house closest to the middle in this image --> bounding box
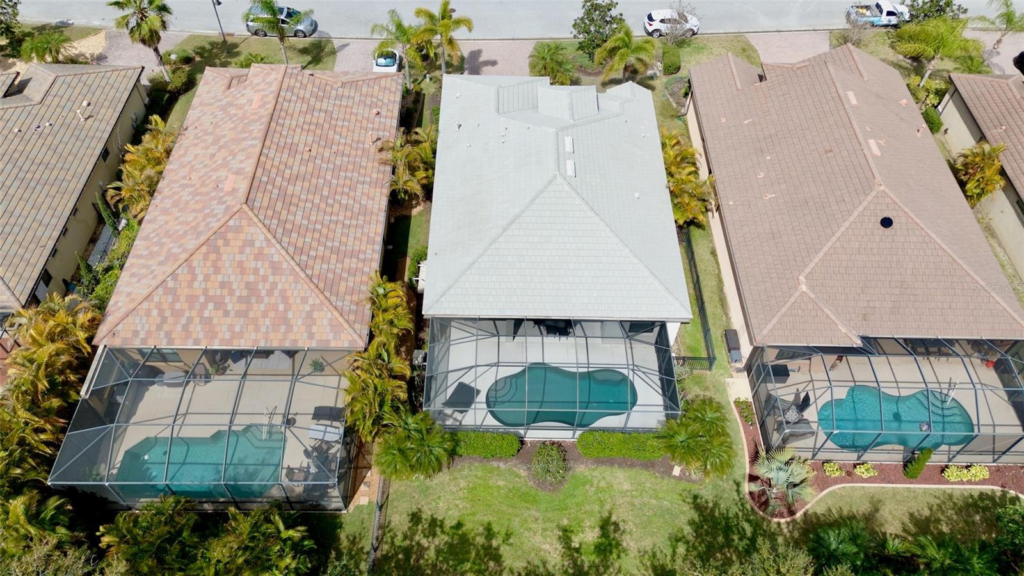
[420,73,693,345]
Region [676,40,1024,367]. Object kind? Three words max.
house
